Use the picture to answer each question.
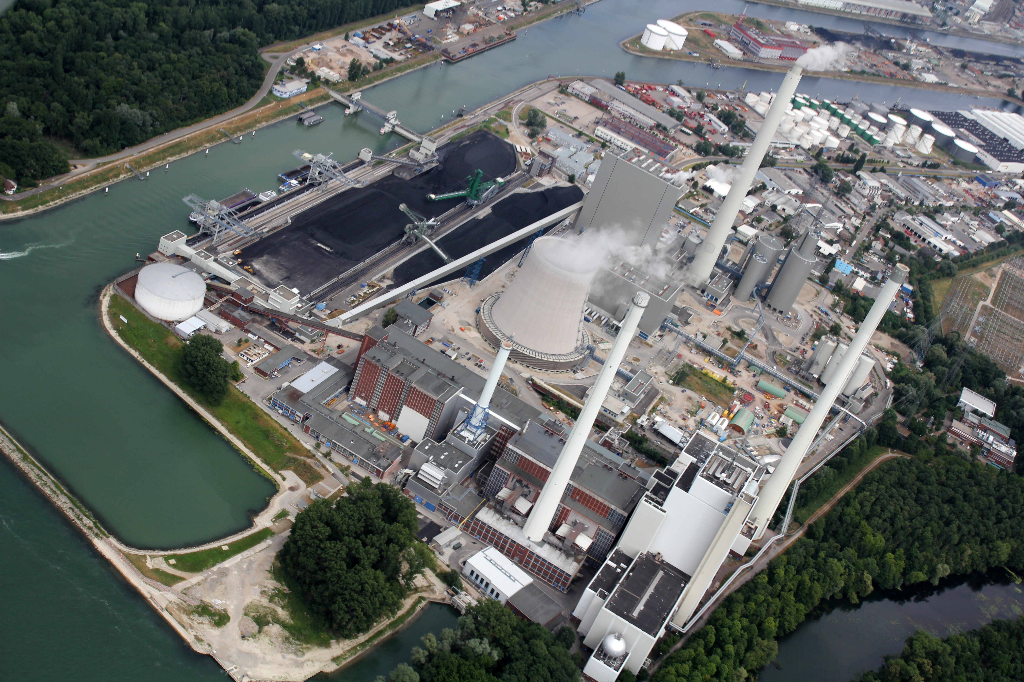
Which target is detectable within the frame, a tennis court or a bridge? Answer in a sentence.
The image shows a bridge.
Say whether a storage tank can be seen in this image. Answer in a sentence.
Yes, the picture does show a storage tank.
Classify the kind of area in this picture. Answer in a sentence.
What you see here is a port.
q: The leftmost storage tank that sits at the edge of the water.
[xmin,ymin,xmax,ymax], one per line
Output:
[133,262,206,320]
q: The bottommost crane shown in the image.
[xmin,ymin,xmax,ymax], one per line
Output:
[184,194,257,243]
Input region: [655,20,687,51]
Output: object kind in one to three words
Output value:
storage tank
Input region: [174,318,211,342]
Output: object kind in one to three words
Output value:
shed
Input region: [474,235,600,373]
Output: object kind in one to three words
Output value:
cooling tower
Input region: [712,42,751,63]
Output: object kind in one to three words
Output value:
building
